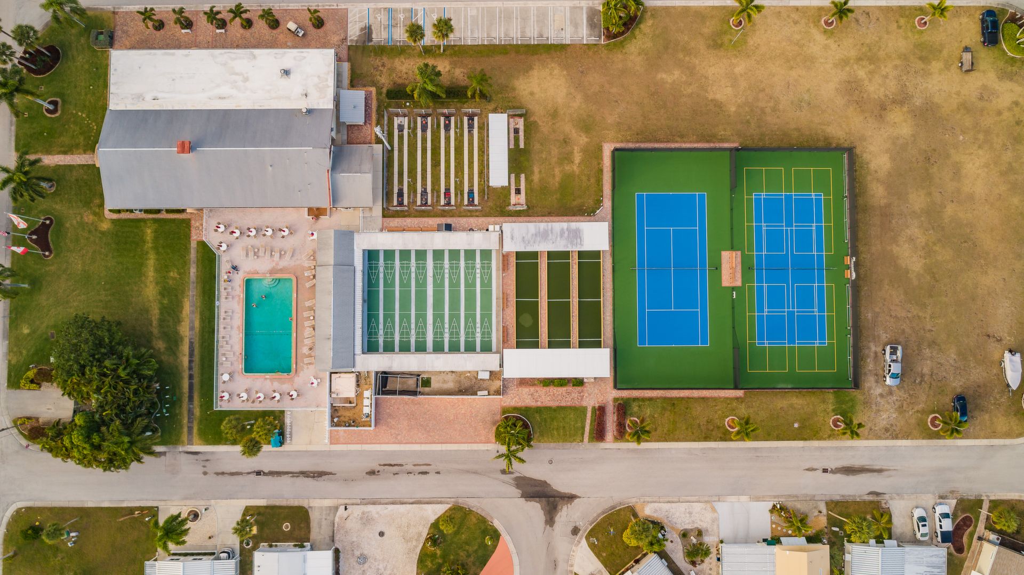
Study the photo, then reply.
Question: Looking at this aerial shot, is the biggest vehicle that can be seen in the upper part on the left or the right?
right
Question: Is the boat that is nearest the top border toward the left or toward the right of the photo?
right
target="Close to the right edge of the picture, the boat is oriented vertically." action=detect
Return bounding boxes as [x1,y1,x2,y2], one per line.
[1003,345,1023,389]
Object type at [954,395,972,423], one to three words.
car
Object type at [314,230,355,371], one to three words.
building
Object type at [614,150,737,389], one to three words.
tennis court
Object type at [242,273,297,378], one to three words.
swimming pool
